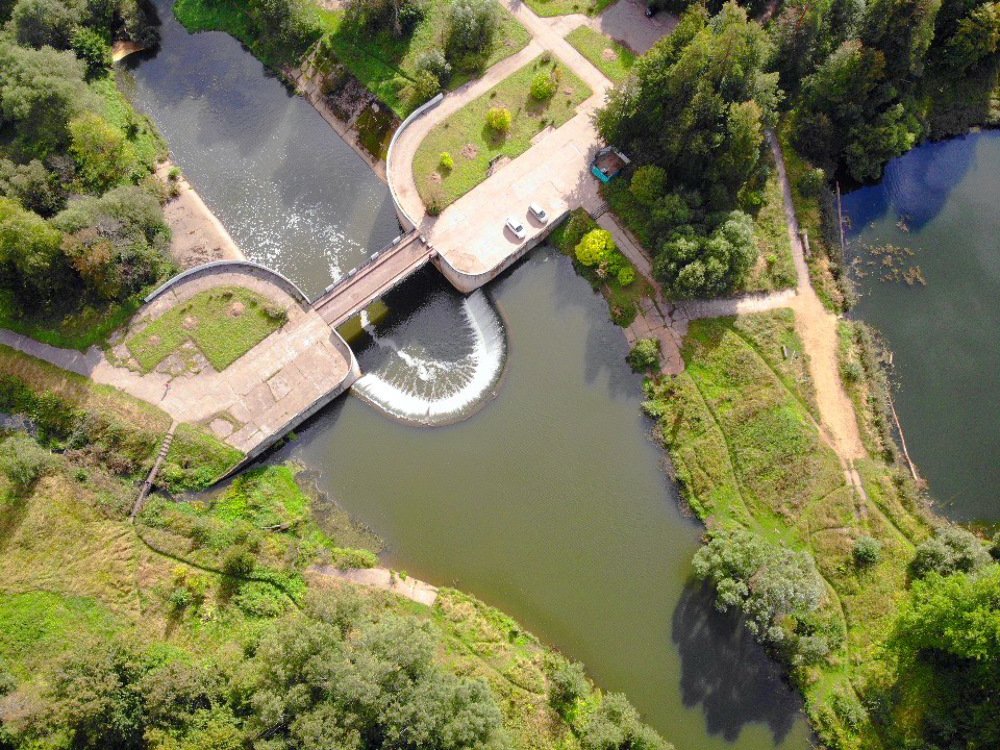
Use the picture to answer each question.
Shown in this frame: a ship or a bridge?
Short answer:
bridge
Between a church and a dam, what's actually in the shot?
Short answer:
dam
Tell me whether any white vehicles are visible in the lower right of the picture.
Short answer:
No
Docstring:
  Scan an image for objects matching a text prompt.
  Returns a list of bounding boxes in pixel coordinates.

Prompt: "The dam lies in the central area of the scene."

[353,282,511,426]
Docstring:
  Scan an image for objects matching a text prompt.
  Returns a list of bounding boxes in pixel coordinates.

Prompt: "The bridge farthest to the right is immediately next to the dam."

[312,229,438,331]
